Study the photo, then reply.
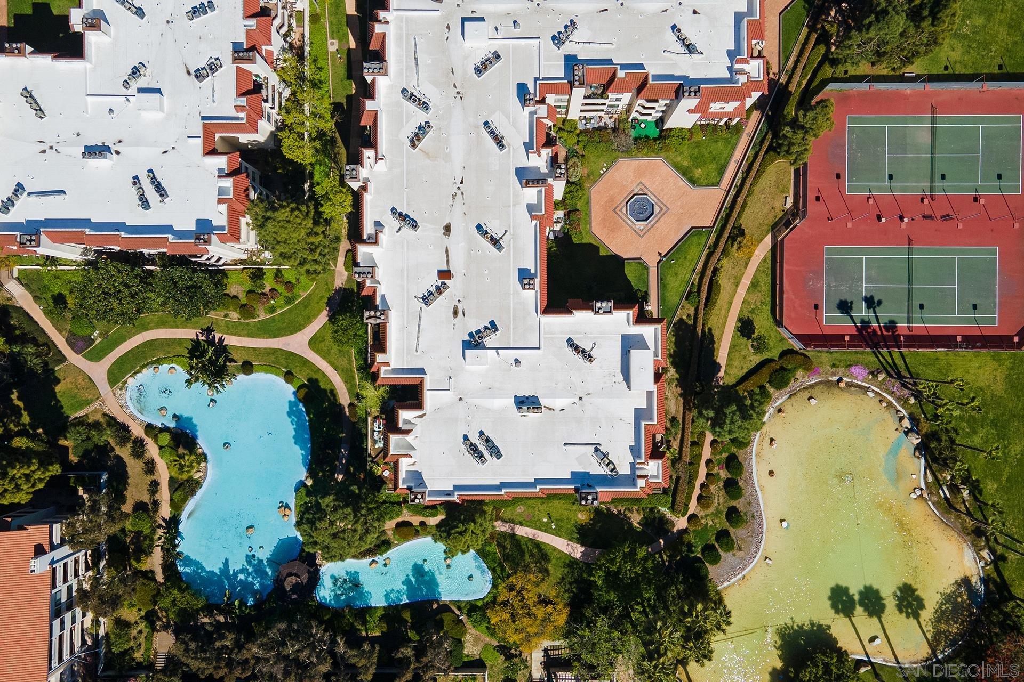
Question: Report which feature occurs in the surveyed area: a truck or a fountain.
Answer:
fountain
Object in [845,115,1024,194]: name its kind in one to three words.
tennis court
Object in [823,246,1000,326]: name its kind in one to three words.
tennis court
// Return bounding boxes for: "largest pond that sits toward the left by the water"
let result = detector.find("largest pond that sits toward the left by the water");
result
[126,364,311,606]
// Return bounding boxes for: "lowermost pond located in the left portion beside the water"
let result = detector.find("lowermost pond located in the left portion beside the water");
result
[315,537,492,609]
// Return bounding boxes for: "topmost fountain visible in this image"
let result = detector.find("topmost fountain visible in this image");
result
[628,194,655,222]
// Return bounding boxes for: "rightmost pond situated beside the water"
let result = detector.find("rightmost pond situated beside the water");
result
[673,379,985,682]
